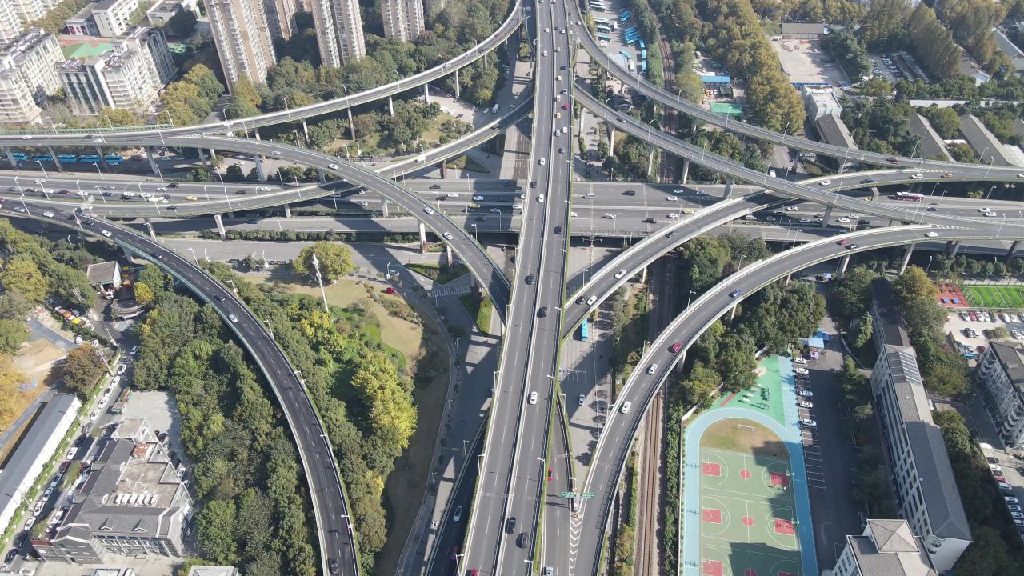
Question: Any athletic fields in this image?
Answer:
Yes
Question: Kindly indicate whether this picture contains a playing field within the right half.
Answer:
Yes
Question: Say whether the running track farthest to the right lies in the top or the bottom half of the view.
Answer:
bottom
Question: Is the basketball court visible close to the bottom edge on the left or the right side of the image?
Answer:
right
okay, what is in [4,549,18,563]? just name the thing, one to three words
car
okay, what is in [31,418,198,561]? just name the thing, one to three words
building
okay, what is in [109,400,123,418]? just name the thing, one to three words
vehicle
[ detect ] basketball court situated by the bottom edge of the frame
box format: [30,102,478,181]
[698,447,804,576]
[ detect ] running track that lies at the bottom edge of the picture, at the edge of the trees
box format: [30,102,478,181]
[686,408,818,576]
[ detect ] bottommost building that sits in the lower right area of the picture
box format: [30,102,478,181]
[828,519,941,576]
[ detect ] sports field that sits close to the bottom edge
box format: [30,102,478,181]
[698,416,802,569]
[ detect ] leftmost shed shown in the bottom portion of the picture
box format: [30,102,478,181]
[0,387,85,533]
